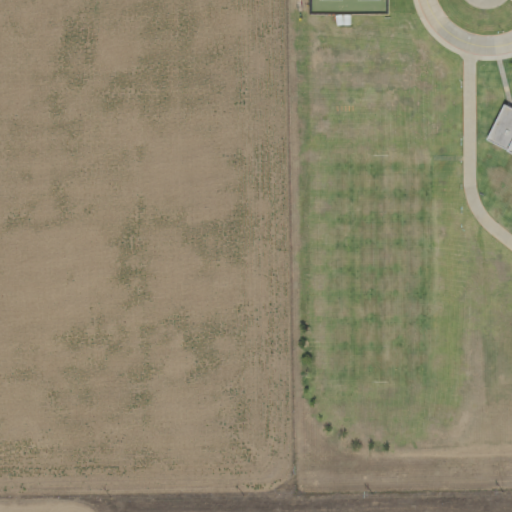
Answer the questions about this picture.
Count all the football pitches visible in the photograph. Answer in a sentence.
The picture shows 1 football pitch.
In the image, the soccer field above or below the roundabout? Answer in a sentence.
In the image, the soccer field appears below the roundabout.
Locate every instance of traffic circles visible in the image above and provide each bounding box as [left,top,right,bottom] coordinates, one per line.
[412,0,512,68]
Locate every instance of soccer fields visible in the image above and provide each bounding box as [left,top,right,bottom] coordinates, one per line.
[312,155,448,381]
